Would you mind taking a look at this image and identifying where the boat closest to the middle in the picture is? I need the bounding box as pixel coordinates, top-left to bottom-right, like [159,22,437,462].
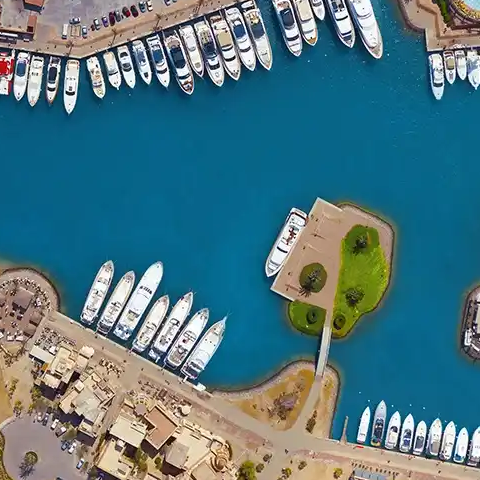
[267,206,309,275]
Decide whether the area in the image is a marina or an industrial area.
marina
